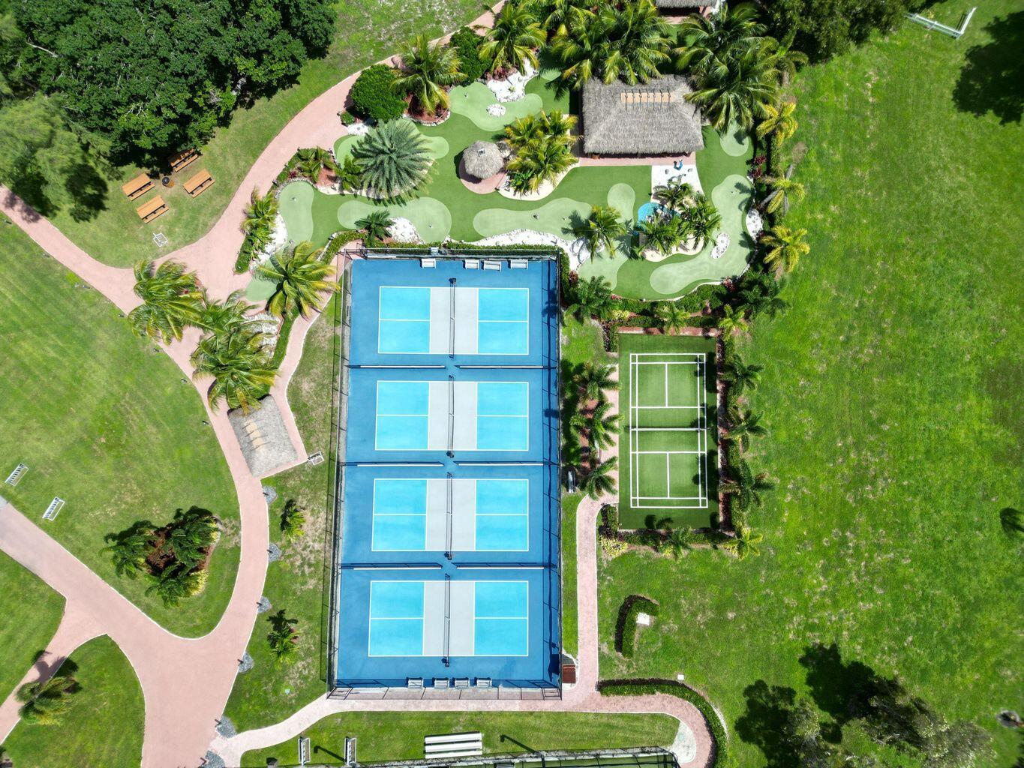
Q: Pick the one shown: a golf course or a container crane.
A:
golf course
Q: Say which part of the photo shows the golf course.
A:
top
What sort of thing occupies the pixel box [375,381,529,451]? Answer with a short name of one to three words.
sports court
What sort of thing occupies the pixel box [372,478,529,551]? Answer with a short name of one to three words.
sports court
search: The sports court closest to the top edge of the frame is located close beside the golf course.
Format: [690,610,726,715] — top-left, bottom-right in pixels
[378,286,529,355]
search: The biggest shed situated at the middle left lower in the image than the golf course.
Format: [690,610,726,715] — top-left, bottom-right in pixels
[228,395,299,479]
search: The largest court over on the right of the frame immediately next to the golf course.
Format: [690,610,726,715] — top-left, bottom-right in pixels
[619,333,722,529]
